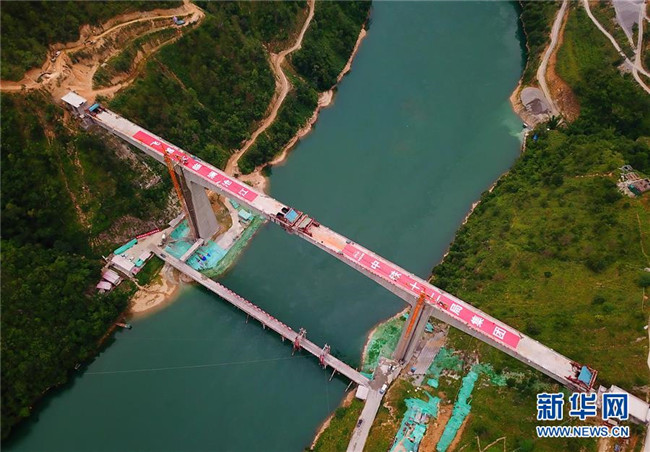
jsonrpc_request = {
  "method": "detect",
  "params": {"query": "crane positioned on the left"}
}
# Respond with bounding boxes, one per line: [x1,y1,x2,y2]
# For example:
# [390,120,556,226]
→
[157,141,192,242]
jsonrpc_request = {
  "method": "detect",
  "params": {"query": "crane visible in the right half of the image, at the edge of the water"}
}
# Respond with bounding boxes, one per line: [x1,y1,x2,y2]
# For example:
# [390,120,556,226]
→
[395,280,426,368]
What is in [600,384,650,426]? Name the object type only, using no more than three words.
building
